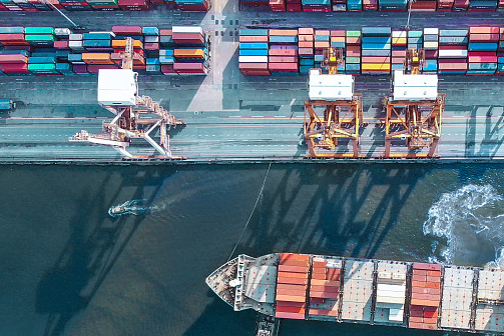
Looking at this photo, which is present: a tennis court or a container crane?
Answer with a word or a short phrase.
container crane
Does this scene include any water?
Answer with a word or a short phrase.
Yes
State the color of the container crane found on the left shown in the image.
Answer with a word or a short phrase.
white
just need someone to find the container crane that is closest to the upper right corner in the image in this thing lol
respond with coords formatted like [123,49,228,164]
[377,45,448,156]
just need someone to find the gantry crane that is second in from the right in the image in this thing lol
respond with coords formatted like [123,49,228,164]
[302,45,368,156]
